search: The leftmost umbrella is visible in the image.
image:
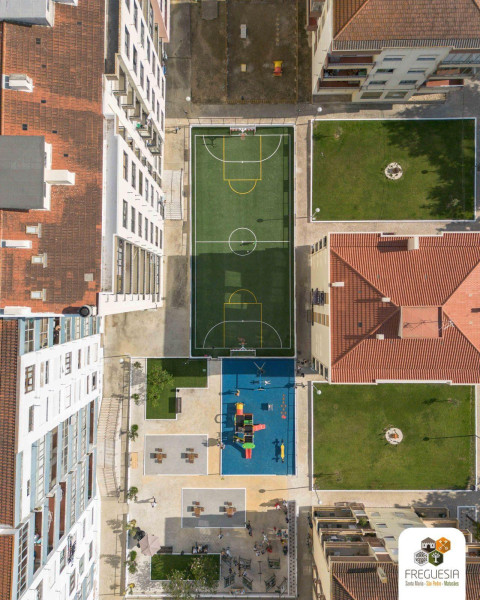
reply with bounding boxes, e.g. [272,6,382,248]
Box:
[135,538,156,563]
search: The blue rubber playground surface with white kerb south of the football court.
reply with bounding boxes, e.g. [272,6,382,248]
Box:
[221,358,295,475]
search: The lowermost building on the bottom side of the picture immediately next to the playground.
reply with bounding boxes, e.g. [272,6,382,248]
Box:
[311,504,480,600]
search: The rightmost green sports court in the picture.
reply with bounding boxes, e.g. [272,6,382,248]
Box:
[190,123,295,358]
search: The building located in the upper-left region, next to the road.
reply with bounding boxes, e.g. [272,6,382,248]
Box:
[0,0,171,316]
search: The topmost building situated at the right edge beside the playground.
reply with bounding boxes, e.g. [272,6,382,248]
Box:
[312,229,480,387]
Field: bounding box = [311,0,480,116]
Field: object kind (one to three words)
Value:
building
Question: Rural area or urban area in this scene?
urban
